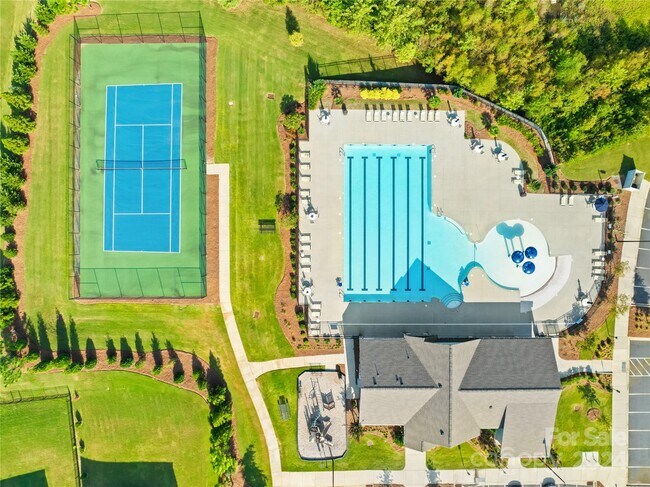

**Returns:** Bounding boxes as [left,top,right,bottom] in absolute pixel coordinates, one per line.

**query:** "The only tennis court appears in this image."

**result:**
[79,42,206,298]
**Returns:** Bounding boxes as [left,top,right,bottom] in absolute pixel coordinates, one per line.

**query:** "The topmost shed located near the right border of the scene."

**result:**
[623,171,645,190]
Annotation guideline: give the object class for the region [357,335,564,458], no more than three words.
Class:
building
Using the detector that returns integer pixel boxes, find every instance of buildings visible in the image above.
[357,335,564,458]
[623,171,645,190]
